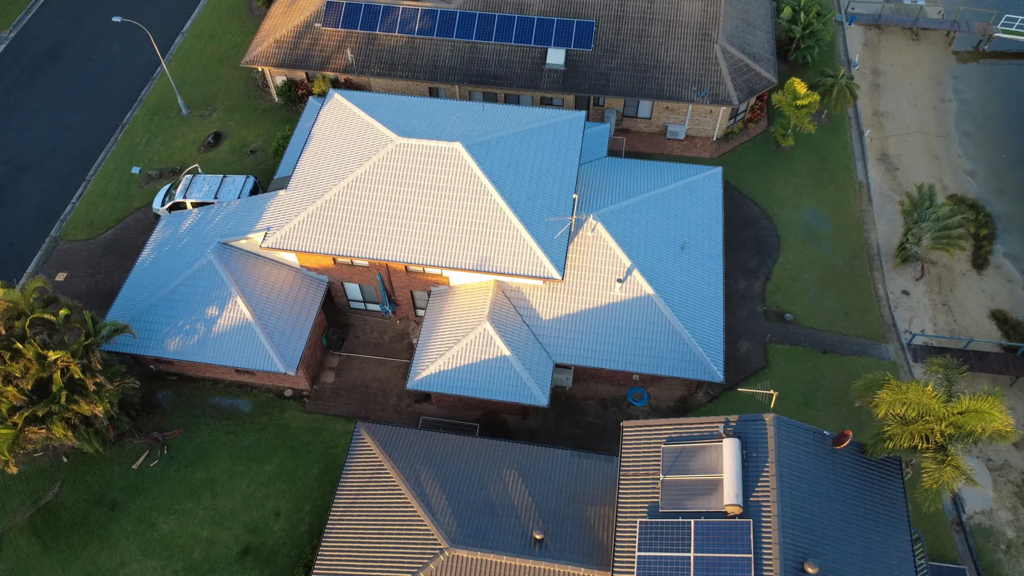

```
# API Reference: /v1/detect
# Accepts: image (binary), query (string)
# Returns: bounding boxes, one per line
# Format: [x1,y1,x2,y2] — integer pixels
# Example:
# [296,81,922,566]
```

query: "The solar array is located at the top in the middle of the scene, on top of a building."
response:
[320,1,597,50]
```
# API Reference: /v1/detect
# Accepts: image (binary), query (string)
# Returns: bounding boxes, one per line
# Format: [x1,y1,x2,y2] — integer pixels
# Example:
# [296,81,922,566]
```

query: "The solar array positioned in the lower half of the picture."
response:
[634,519,754,576]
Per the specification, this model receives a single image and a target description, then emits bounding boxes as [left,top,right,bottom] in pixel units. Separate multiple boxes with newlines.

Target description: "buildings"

[88,86,727,425]
[307,413,923,576]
